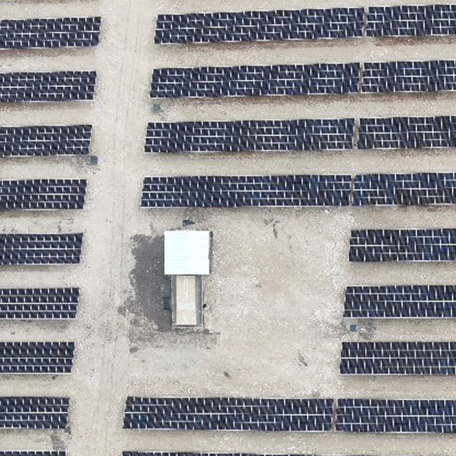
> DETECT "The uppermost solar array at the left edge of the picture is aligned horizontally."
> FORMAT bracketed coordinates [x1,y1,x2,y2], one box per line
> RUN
[0,16,102,49]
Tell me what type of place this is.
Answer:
solar farm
